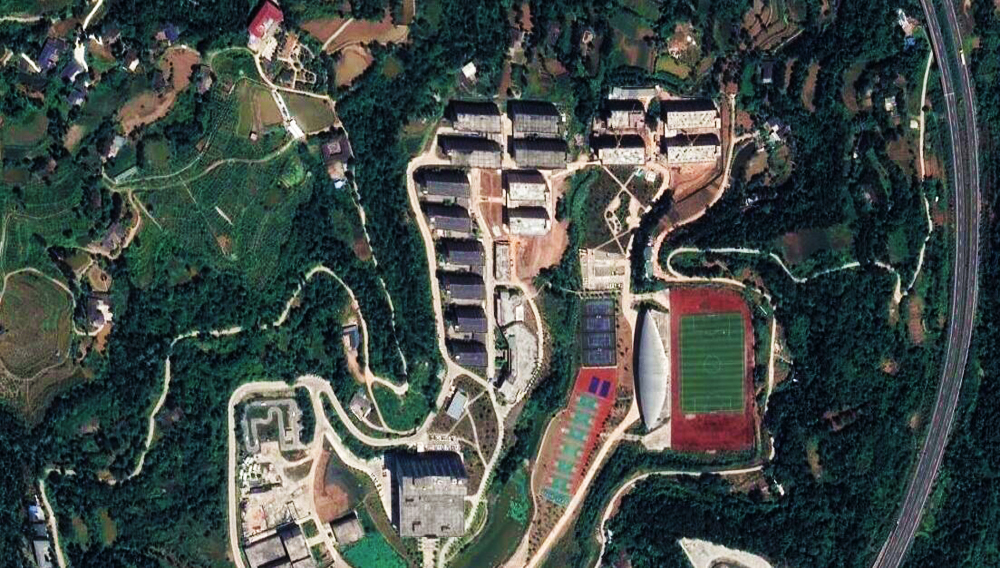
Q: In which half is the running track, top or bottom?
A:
bottom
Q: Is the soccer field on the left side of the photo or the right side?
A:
right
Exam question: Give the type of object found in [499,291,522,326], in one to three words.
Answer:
building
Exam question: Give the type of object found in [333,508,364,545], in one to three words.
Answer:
building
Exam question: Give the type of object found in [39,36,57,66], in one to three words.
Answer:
house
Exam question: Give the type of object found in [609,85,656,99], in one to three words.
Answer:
shed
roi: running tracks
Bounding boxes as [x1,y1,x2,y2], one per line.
[670,288,755,453]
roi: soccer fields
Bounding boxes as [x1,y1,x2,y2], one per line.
[680,312,744,414]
